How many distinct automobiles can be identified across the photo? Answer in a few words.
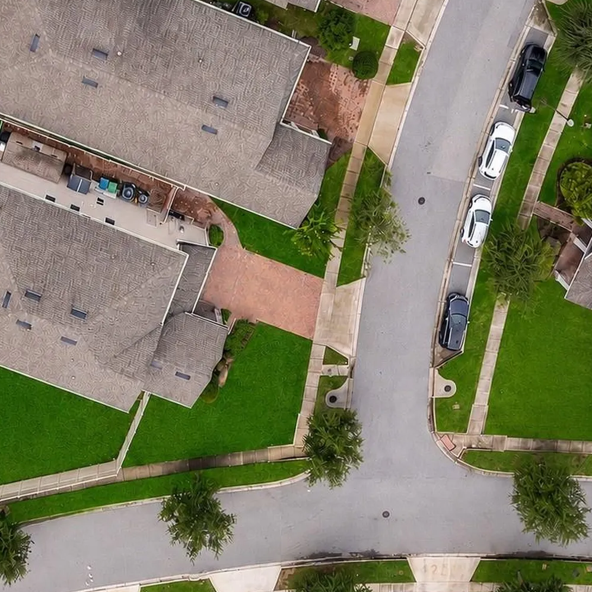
4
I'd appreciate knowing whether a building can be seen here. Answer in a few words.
Yes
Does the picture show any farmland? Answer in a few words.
No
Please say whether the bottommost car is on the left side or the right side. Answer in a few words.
right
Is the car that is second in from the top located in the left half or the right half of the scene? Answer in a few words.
right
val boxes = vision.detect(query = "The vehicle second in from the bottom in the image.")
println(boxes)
[460,193,494,249]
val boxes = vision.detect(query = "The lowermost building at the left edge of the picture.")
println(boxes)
[0,157,228,413]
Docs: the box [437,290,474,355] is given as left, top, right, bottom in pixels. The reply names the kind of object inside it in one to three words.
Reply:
car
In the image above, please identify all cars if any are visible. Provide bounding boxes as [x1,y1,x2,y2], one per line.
[437,290,474,355]
[460,193,494,249]
[478,120,517,181]
[507,42,551,112]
